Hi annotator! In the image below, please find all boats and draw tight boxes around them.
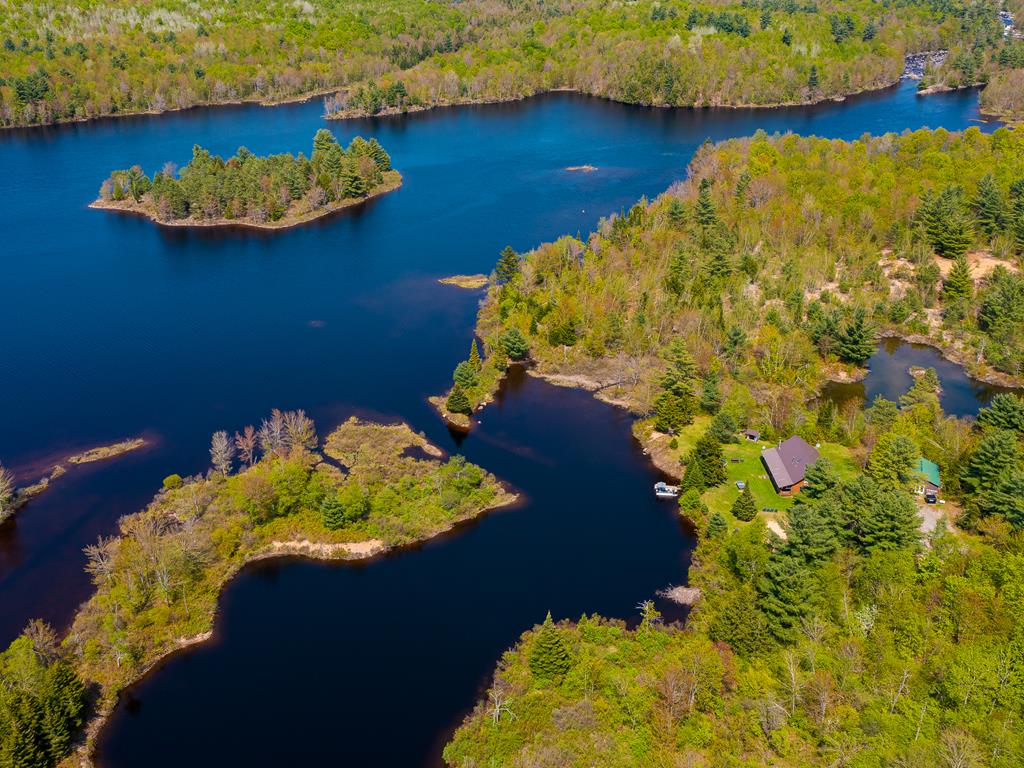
[653,483,676,498]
